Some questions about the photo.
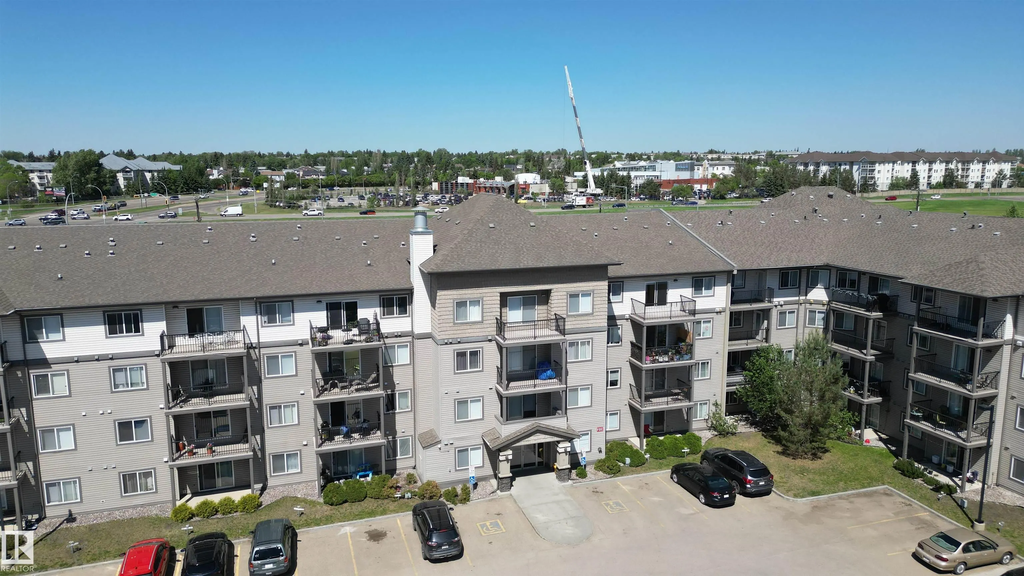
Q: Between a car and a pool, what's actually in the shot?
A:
car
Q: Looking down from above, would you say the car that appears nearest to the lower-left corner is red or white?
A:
red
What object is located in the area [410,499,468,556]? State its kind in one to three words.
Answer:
car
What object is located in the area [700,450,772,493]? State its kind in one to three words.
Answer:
car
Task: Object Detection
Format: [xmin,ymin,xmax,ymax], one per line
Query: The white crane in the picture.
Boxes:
[564,66,599,195]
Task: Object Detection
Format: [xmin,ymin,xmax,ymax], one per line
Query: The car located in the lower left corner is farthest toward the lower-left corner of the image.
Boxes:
[117,538,172,576]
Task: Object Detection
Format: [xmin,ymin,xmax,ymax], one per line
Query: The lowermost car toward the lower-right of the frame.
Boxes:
[916,527,1023,576]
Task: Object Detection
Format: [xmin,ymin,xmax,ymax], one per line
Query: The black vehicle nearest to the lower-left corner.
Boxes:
[180,532,233,576]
